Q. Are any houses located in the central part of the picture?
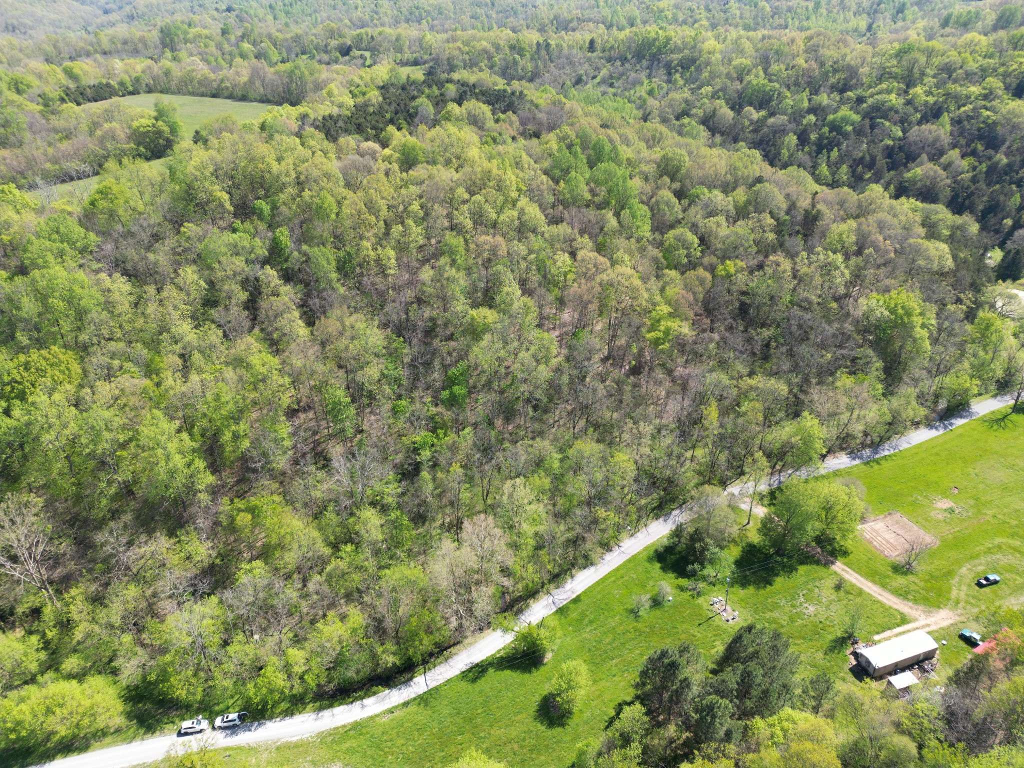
No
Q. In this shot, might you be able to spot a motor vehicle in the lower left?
Yes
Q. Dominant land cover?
trees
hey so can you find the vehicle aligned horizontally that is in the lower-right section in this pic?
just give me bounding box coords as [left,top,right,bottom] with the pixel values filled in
[972,574,1001,586]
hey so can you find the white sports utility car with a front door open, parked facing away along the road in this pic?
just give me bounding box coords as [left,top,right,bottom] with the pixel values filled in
[178,710,210,732]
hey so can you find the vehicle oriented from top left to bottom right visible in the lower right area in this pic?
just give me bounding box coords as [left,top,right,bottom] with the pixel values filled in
[956,626,984,647]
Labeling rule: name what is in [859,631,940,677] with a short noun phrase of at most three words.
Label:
house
